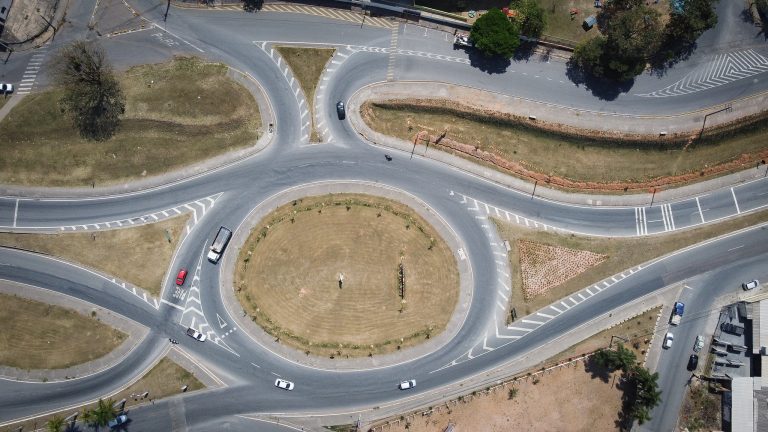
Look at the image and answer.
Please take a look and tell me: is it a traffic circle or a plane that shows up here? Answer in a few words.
traffic circle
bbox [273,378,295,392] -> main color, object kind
white vehicle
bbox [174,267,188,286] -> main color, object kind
red vehicle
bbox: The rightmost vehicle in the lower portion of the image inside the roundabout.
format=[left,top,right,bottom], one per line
[398,379,417,392]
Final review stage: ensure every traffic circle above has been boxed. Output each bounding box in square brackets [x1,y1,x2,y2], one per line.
[183,146,508,410]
